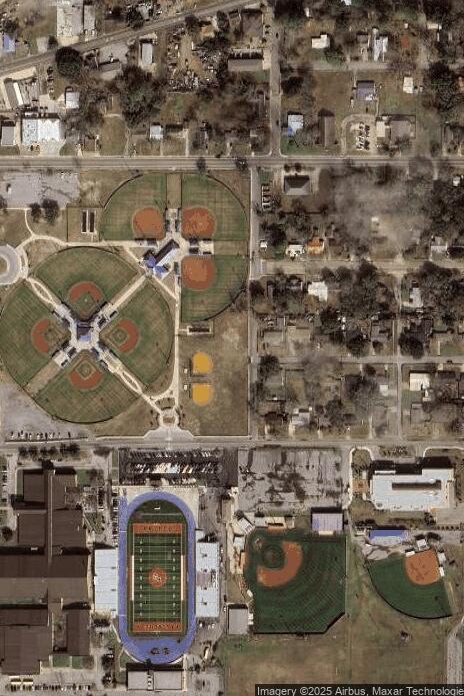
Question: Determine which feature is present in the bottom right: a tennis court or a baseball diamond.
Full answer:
There is a baseball diamond in the bottom right.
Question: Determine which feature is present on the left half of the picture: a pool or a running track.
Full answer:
The feature located on the left half of the picture is a running track.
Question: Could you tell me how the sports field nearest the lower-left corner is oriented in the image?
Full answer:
In this picture, the sports field nearest the lower-left corner is oriented up and down.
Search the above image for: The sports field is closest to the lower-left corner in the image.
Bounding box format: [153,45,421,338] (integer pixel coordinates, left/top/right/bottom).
[126,500,188,635]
